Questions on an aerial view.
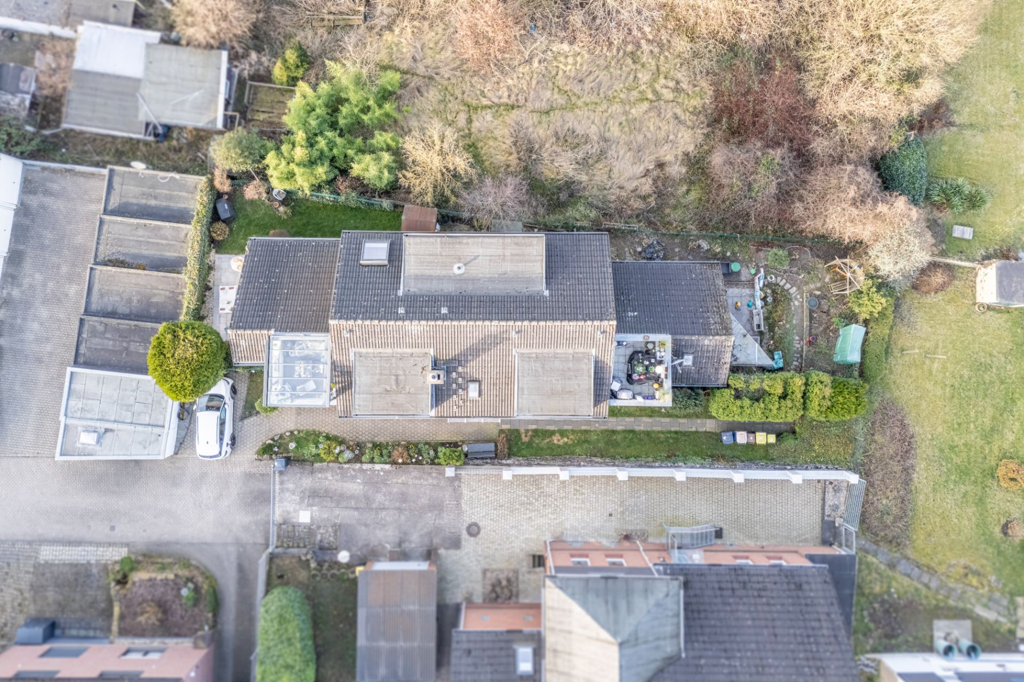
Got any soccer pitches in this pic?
No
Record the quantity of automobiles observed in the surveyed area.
1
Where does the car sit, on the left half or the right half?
left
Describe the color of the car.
white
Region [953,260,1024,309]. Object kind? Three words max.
shed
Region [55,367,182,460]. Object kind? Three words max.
building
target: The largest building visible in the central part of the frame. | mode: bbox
[327,228,618,423]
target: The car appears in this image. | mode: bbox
[190,376,240,457]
